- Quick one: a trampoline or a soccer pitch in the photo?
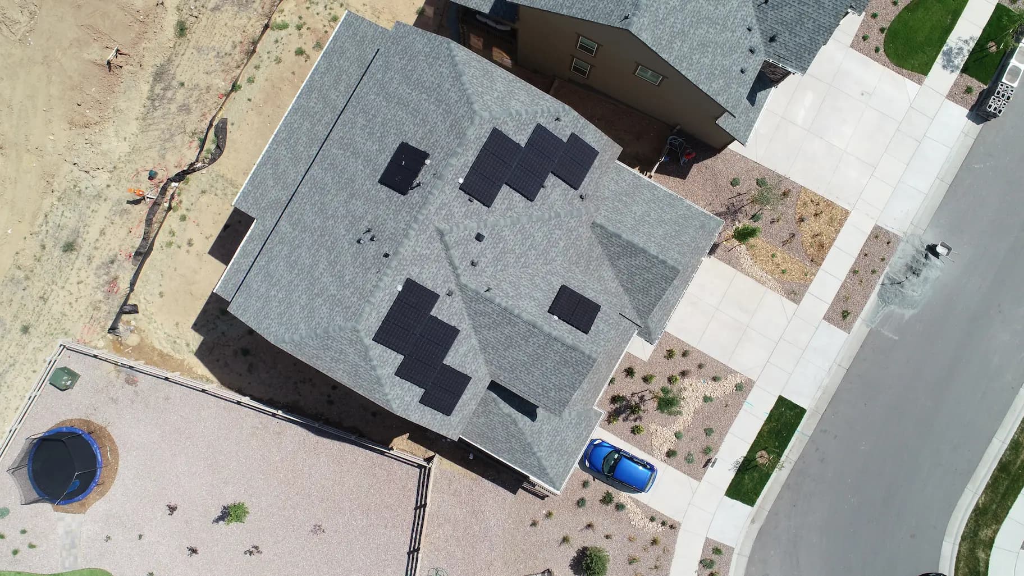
trampoline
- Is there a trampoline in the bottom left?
Yes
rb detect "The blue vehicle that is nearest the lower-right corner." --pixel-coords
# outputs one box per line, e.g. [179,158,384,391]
[584,439,663,500]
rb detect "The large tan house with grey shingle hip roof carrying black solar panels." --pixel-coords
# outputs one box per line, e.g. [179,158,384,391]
[212,9,726,496]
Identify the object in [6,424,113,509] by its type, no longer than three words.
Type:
trampoline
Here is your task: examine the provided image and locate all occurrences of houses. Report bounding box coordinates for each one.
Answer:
[212,9,726,496]
[453,0,868,153]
